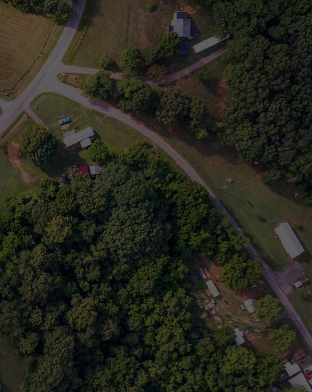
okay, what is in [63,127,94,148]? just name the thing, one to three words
house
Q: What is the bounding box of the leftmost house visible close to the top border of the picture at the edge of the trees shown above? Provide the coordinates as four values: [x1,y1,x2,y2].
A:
[166,11,195,55]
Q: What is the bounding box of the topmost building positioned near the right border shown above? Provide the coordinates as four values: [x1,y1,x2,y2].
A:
[273,222,305,258]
